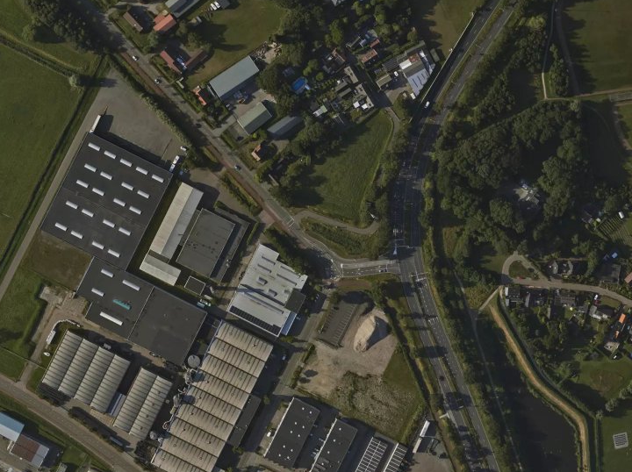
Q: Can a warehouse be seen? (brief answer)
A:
Yes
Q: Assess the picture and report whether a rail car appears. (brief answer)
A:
No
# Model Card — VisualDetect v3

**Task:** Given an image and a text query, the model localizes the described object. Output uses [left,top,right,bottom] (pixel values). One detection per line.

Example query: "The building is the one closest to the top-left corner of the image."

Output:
[126,9,149,33]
